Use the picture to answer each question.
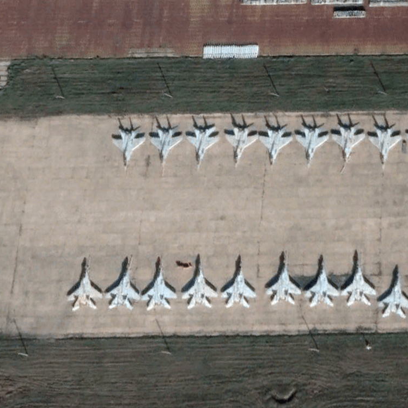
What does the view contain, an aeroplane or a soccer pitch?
aeroplane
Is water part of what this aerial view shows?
No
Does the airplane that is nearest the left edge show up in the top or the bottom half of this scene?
bottom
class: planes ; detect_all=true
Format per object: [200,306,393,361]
[267,255,301,307]
[107,260,140,313]
[333,121,365,172]
[226,121,258,174]
[142,260,177,312]
[183,257,217,311]
[341,256,376,308]
[186,124,219,174]
[150,126,182,177]
[368,123,402,174]
[296,122,328,173]
[379,269,408,321]
[305,255,340,308]
[113,126,145,176]
[259,123,292,174]
[222,256,256,311]
[68,258,103,312]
